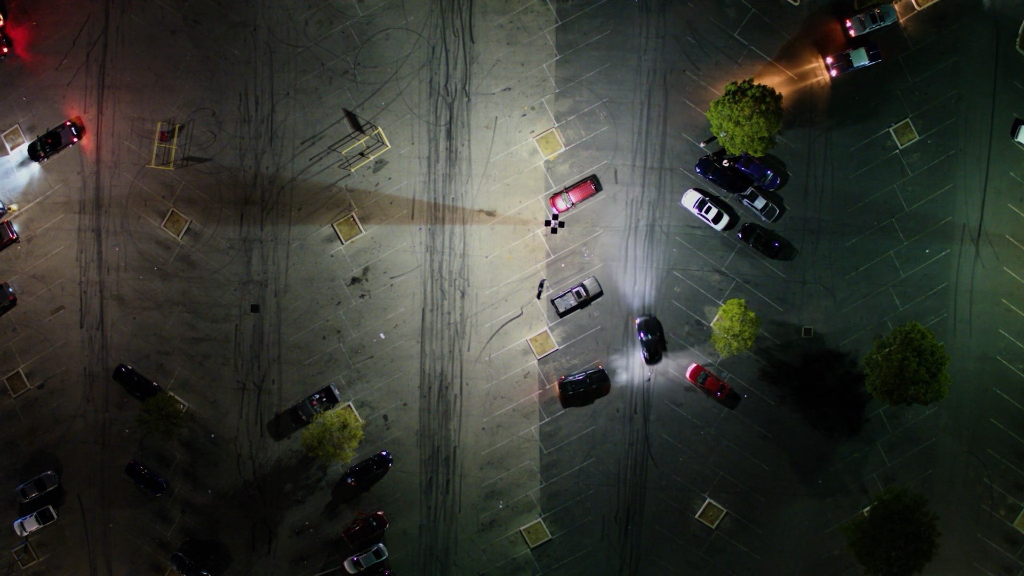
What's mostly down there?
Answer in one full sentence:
Most of the picture is covered by paved ground.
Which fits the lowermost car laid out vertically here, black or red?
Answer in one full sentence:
In this view, the lowermost car laid out vertically is black.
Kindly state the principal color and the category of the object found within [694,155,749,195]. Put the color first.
black car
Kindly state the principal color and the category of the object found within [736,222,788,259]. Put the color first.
black car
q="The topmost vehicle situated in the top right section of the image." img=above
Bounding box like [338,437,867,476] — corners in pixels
[846,3,897,38]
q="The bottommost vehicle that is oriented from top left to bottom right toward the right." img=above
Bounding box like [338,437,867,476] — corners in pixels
[686,364,736,406]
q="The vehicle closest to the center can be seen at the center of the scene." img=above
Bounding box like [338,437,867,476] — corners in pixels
[550,276,604,318]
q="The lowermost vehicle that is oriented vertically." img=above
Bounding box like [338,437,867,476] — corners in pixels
[635,314,662,365]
